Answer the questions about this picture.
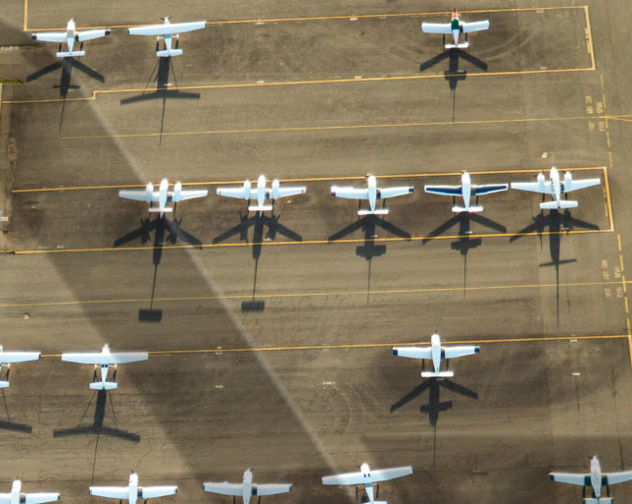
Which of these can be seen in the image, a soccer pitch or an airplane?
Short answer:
airplane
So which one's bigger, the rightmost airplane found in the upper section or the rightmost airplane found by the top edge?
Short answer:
the rightmost airplane found in the upper section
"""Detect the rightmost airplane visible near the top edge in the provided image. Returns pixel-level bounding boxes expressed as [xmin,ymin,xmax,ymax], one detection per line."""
[421,12,489,46]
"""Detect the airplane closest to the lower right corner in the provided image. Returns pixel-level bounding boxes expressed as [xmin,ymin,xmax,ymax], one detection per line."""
[550,454,632,504]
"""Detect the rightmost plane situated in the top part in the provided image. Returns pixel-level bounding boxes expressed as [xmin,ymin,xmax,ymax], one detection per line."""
[511,166,601,210]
